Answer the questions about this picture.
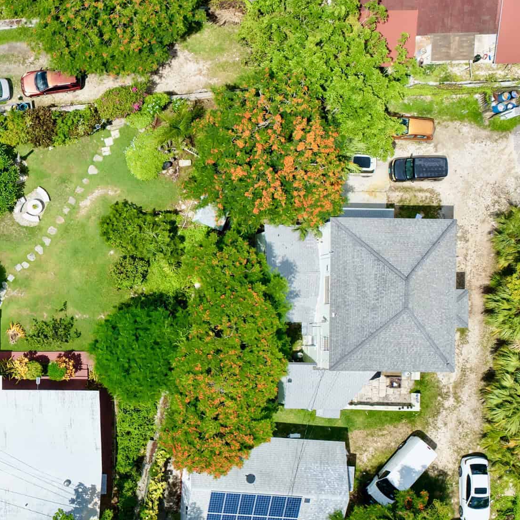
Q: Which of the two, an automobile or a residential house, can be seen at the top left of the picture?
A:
automobile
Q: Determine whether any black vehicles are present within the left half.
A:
No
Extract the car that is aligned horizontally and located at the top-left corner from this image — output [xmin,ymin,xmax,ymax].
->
[19,67,83,99]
